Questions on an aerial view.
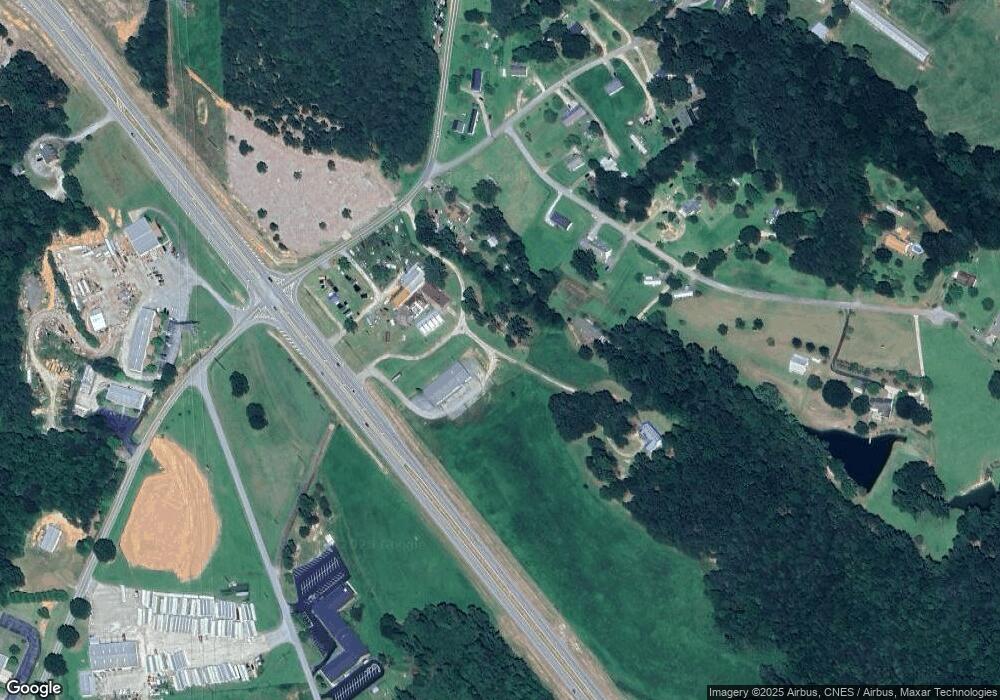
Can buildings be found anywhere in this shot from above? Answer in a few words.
Yes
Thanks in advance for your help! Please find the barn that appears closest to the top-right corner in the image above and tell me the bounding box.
[843,0,931,62]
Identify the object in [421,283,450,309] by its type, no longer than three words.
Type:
house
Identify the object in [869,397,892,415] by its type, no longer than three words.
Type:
house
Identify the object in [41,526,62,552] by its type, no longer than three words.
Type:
barn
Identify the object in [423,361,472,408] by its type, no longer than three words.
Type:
building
